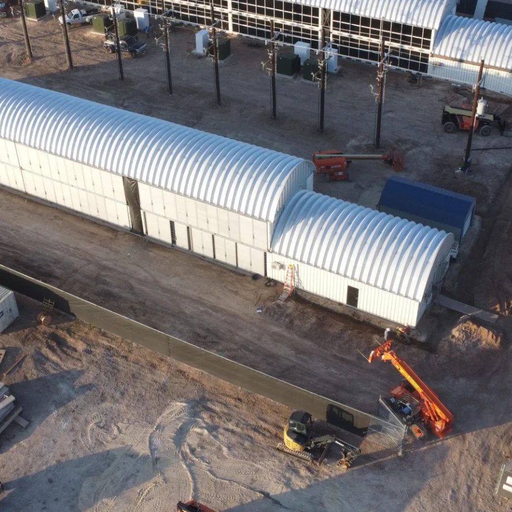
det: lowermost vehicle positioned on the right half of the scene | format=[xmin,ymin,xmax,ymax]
[279,407,365,473]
